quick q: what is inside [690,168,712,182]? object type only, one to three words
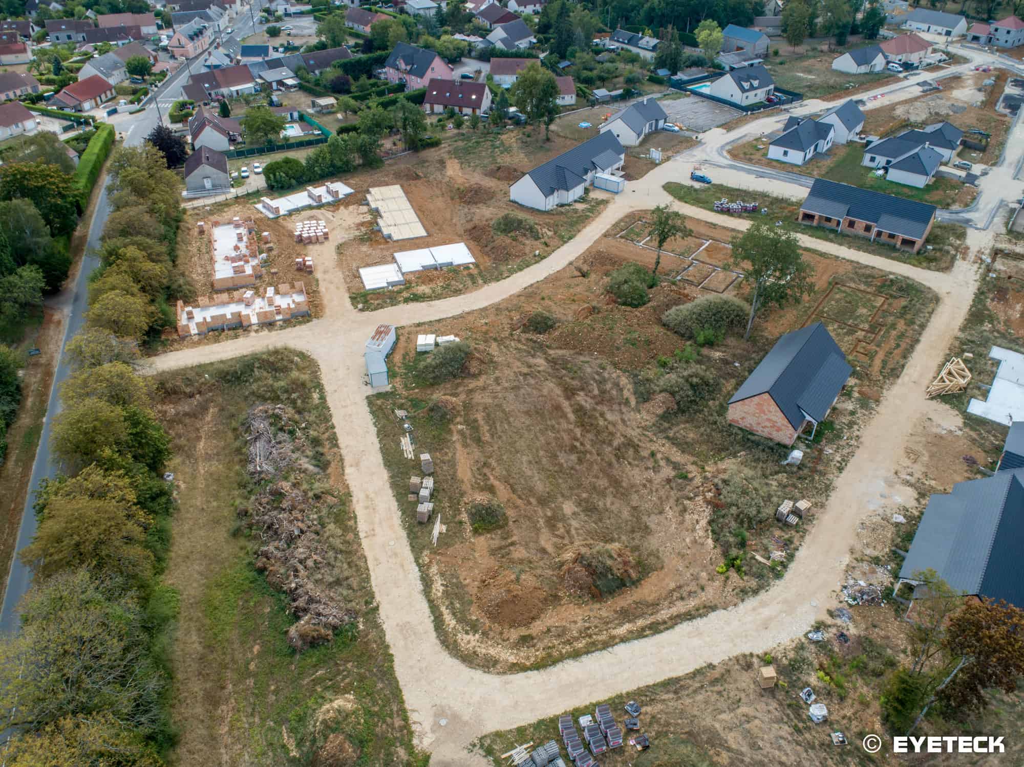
vehicle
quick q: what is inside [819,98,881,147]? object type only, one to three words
house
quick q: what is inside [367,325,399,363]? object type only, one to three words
building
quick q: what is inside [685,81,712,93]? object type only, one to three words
swimming pool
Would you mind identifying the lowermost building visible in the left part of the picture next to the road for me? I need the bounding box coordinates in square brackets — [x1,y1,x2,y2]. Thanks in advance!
[365,354,393,397]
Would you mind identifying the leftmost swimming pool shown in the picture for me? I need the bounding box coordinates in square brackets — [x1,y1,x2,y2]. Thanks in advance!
[281,123,304,137]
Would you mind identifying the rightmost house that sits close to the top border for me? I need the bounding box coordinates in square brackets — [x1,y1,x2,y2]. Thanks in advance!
[978,15,1024,46]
